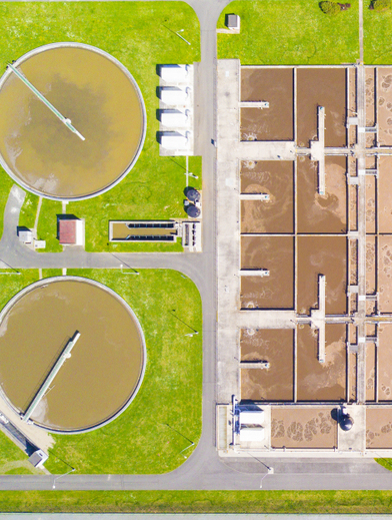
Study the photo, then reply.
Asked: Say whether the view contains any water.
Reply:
Yes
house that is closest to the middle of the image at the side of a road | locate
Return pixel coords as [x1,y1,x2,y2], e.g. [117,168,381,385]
[183,222,202,251]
